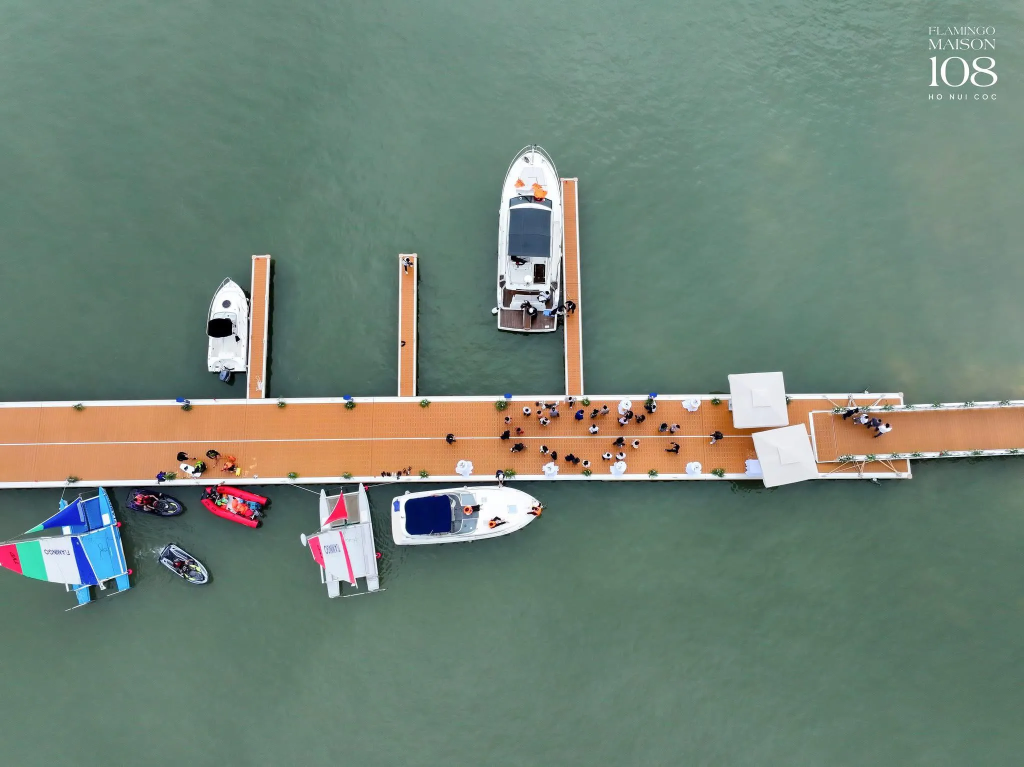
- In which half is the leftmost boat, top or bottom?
bottom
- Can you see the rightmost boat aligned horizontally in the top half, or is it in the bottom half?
bottom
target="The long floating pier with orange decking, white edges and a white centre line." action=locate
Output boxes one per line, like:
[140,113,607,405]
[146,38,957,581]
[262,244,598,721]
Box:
[0,391,906,488]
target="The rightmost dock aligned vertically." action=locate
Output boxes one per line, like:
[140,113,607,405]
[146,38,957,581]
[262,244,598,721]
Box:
[559,176,586,395]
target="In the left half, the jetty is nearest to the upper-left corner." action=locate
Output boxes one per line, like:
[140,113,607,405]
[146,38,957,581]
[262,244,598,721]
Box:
[247,254,276,398]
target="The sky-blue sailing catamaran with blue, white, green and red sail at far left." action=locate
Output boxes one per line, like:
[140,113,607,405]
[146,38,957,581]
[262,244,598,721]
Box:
[0,486,133,611]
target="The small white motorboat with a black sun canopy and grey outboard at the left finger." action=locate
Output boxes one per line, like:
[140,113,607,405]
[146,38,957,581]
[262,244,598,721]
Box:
[207,277,250,382]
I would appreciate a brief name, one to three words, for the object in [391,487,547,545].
boat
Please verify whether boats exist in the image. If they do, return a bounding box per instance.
[200,485,275,531]
[125,489,182,515]
[0,486,133,611]
[207,277,250,382]
[160,545,210,582]
[303,482,387,600]
[497,145,563,333]
[391,487,547,545]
